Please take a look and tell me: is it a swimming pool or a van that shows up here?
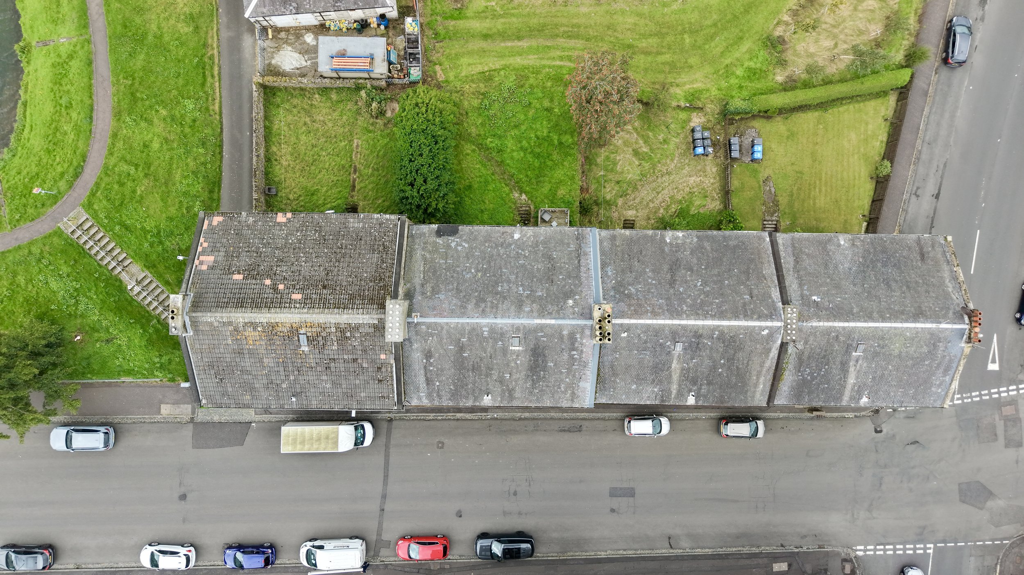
van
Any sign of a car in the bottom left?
Yes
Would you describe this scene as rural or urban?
urban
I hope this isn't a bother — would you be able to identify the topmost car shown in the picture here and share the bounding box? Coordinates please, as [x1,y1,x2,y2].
[943,12,984,68]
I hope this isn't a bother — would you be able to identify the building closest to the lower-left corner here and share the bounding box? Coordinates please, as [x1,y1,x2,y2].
[172,210,413,411]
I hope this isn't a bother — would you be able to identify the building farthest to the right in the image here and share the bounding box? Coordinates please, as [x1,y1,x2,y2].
[771,231,986,410]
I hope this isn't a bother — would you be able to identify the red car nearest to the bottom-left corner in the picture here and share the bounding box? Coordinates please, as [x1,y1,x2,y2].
[396,535,450,567]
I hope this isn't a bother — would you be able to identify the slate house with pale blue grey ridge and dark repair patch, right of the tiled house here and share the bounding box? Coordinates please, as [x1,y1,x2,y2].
[396,222,611,410]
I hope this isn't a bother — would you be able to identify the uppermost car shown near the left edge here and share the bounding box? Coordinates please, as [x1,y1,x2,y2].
[51,424,118,455]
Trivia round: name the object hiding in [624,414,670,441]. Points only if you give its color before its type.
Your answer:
white car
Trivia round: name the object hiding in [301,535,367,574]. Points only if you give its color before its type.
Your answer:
white van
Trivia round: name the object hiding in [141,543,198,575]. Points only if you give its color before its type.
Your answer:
white car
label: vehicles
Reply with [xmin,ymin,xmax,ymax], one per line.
[475,532,535,570]
[282,418,374,453]
[0,544,59,575]
[301,535,367,574]
[51,424,118,455]
[718,416,765,443]
[624,414,670,441]
[141,543,198,575]
[943,12,984,68]
[396,535,450,567]
[224,543,278,575]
